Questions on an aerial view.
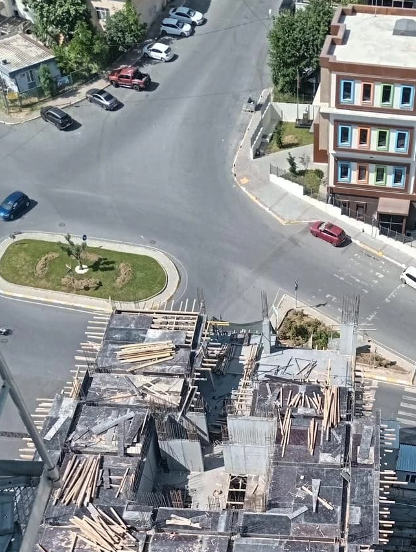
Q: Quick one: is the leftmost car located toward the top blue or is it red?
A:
blue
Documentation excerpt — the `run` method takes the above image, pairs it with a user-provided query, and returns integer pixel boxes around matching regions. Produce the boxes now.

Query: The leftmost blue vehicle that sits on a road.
[0,186,32,220]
